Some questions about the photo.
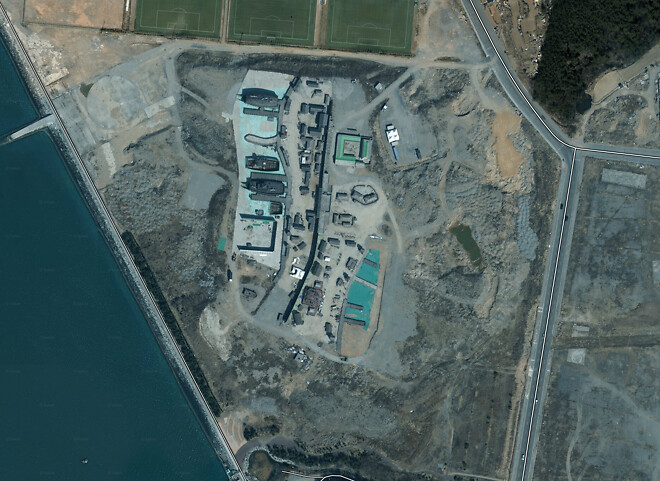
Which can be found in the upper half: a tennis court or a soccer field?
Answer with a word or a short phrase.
soccer field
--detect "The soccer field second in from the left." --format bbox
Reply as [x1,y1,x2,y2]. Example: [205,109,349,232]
[228,0,316,46]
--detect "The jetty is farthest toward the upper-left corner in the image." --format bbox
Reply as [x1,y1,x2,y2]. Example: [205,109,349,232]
[0,115,53,146]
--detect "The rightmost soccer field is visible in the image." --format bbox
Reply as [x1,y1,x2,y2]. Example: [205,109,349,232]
[325,0,414,54]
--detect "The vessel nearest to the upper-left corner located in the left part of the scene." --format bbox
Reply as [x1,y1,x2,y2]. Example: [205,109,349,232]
[241,90,280,108]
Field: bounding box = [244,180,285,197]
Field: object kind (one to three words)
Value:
ship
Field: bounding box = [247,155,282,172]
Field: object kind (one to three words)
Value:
ship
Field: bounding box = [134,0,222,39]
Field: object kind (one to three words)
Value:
soccer field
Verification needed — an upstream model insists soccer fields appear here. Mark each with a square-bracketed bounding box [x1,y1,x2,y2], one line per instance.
[134,0,222,39]
[325,0,414,54]
[228,0,316,46]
